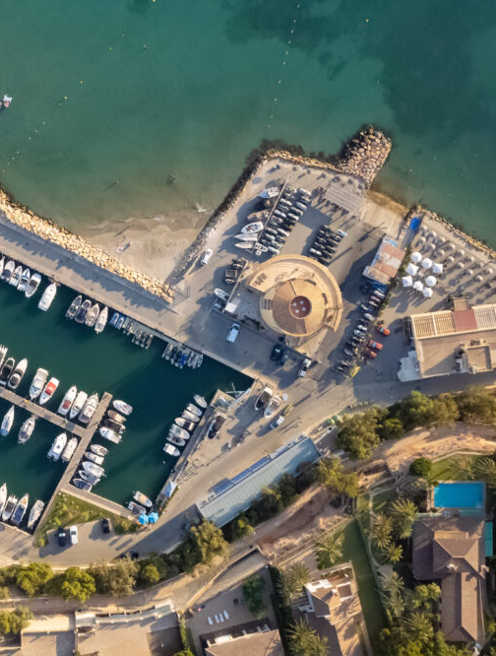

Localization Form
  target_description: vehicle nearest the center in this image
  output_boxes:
[227,322,240,342]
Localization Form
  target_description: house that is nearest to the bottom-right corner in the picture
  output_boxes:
[409,509,494,642]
